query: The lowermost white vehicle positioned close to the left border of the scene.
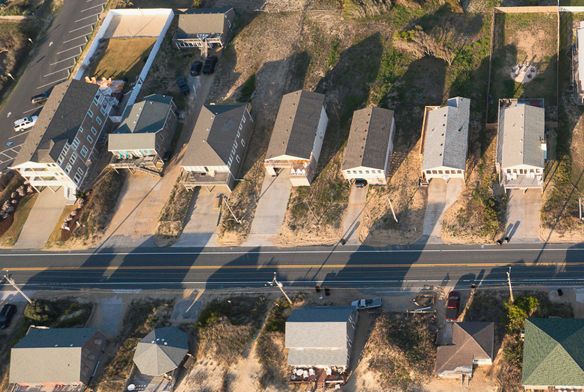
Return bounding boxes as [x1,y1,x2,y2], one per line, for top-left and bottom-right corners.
[11,116,33,133]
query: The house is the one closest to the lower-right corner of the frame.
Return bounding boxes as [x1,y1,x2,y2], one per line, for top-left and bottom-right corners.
[522,318,584,392]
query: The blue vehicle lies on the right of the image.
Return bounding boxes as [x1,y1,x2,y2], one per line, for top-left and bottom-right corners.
[355,295,383,310]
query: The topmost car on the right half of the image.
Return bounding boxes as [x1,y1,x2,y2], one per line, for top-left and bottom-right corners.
[354,178,367,191]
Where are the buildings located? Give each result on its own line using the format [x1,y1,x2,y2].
[434,322,494,384]
[341,107,397,187]
[285,295,361,392]
[109,90,182,186]
[120,322,200,392]
[265,90,331,186]
[178,105,259,202]
[494,102,545,202]
[522,318,584,392]
[2,312,118,392]
[417,92,471,187]
[9,38,124,214]
[569,19,584,111]
[174,6,238,71]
